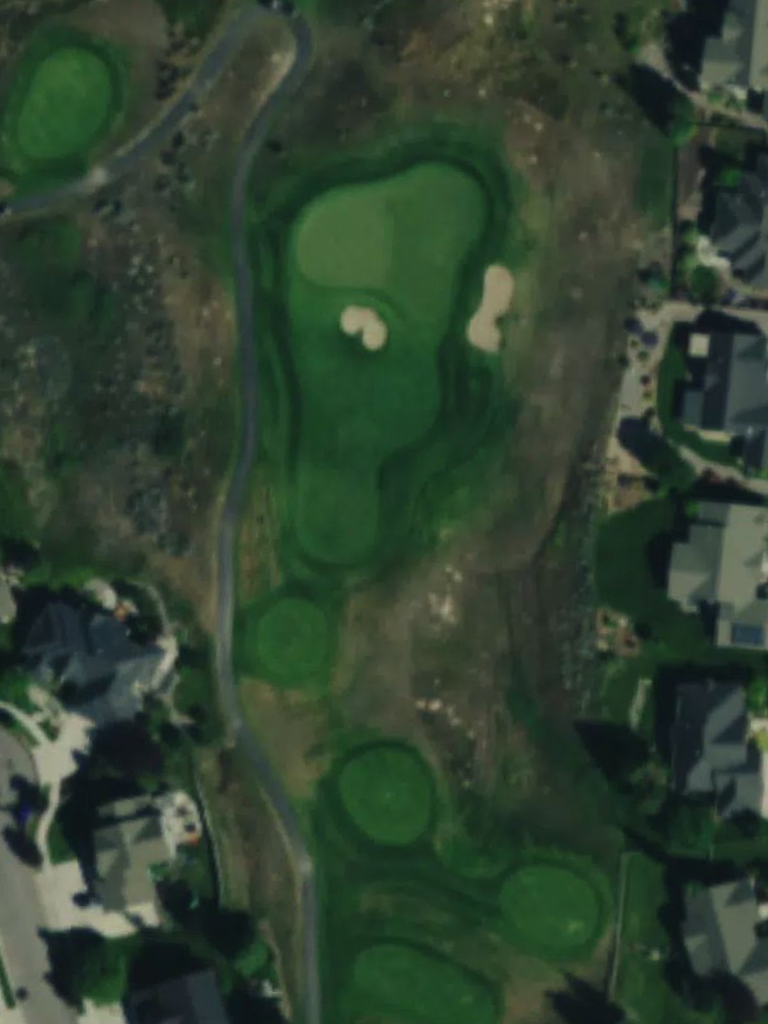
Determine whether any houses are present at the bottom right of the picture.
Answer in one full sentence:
Yes, the scene does show a house at the bottom right of the picture.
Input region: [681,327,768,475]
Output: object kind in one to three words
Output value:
house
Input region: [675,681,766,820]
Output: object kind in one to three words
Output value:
house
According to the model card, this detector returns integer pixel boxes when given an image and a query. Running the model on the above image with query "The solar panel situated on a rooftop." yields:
[732,625,767,645]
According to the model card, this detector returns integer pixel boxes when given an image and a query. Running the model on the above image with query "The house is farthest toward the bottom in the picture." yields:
[127,967,232,1024]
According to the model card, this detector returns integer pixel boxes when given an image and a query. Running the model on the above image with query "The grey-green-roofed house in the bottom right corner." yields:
[679,877,768,1015]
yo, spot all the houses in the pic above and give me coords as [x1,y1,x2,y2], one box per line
[679,877,768,1015]
[89,796,170,910]
[21,597,167,735]
[701,0,768,118]
[675,681,766,820]
[666,497,768,649]
[127,967,232,1024]
[717,142,768,287]
[0,560,18,624]
[681,327,768,475]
